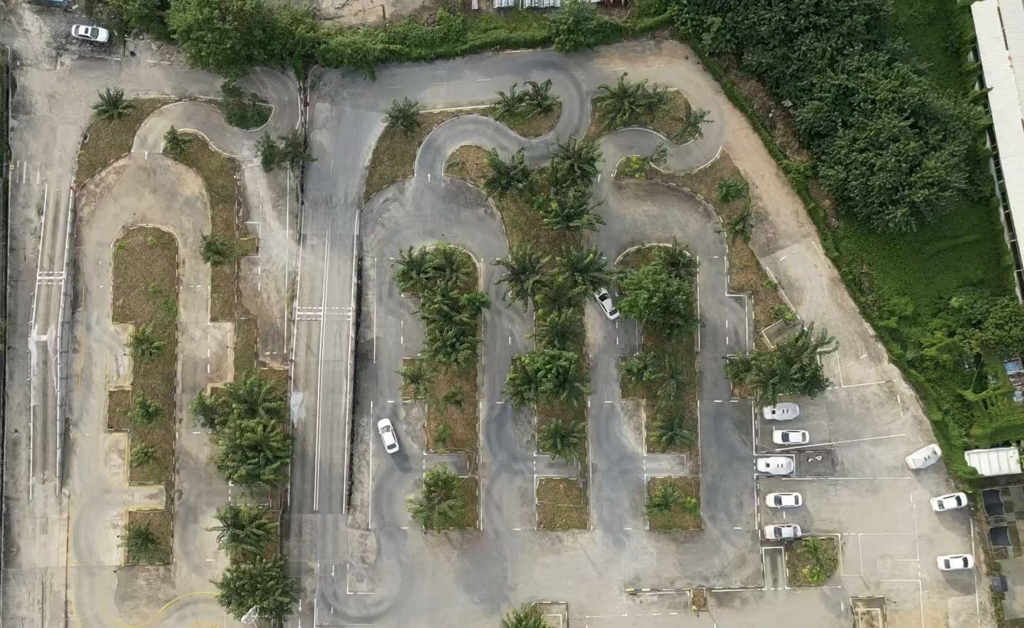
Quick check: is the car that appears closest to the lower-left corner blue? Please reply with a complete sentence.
No, the car that appears closest to the lower-left corner is white.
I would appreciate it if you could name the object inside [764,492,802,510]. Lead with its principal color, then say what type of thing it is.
white car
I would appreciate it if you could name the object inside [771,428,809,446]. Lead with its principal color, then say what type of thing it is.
white car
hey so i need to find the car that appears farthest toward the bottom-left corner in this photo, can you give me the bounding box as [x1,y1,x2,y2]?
[378,418,399,454]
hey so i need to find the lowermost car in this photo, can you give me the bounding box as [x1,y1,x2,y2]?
[934,553,973,572]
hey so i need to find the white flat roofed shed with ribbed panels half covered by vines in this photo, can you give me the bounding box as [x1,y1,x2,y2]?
[963,446,1023,477]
